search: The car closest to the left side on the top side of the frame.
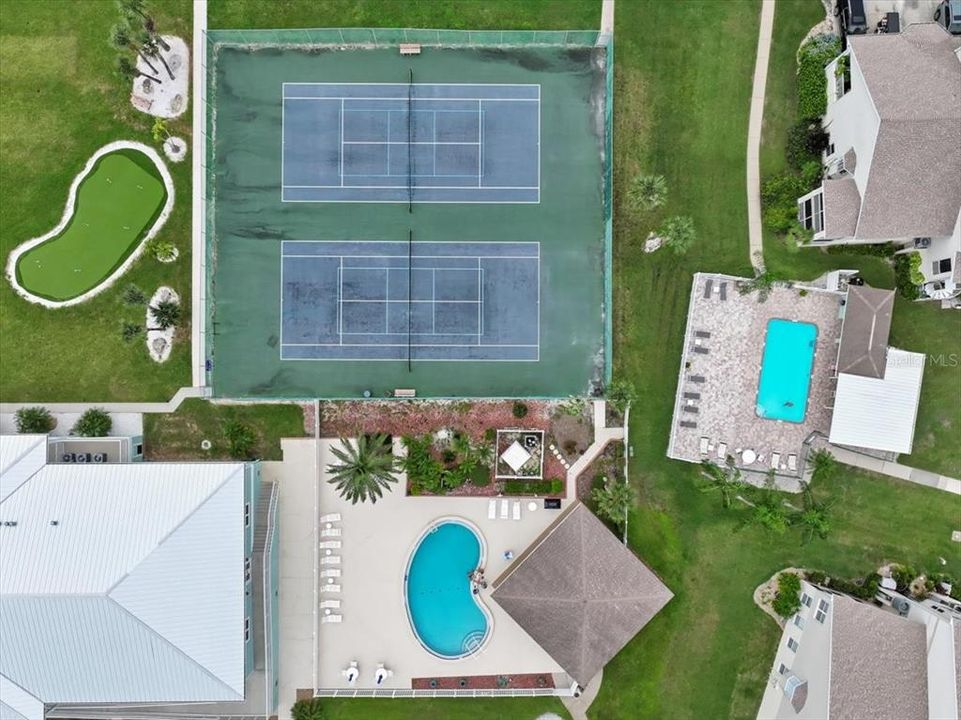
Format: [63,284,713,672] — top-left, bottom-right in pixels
[834,0,865,38]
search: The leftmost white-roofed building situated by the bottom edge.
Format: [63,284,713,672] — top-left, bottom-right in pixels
[0,433,279,720]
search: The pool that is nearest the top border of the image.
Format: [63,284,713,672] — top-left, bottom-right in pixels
[754,315,820,426]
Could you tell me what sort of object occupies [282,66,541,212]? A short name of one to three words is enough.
tennis court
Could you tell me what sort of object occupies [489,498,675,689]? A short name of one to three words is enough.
building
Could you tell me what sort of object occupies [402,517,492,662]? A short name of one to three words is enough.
swimming pool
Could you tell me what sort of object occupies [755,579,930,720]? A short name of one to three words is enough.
house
